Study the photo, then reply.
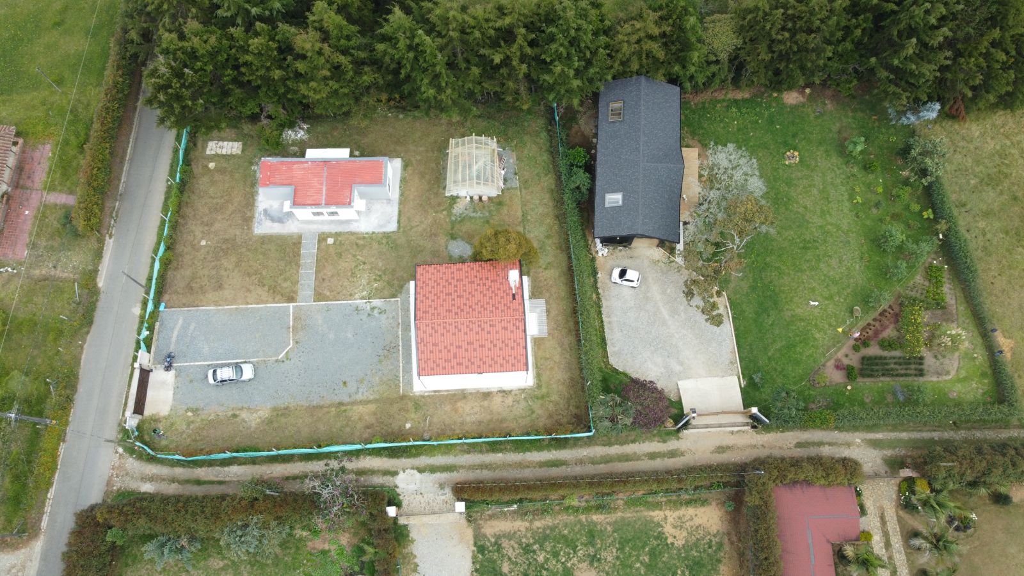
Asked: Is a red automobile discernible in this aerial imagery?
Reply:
No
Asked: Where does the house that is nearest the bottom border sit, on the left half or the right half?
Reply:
right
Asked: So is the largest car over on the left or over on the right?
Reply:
left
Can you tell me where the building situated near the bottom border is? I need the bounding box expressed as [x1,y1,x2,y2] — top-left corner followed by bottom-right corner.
[771,486,860,576]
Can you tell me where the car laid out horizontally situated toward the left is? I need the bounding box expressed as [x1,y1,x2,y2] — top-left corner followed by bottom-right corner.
[206,362,253,386]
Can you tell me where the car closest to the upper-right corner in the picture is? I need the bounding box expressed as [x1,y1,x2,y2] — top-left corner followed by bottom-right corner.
[610,265,644,288]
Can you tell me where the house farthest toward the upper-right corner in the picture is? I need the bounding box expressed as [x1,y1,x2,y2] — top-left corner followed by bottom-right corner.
[594,75,685,252]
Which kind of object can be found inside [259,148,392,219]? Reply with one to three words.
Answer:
house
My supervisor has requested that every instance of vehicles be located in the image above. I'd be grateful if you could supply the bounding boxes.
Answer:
[161,352,172,371]
[610,265,644,288]
[206,362,253,386]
